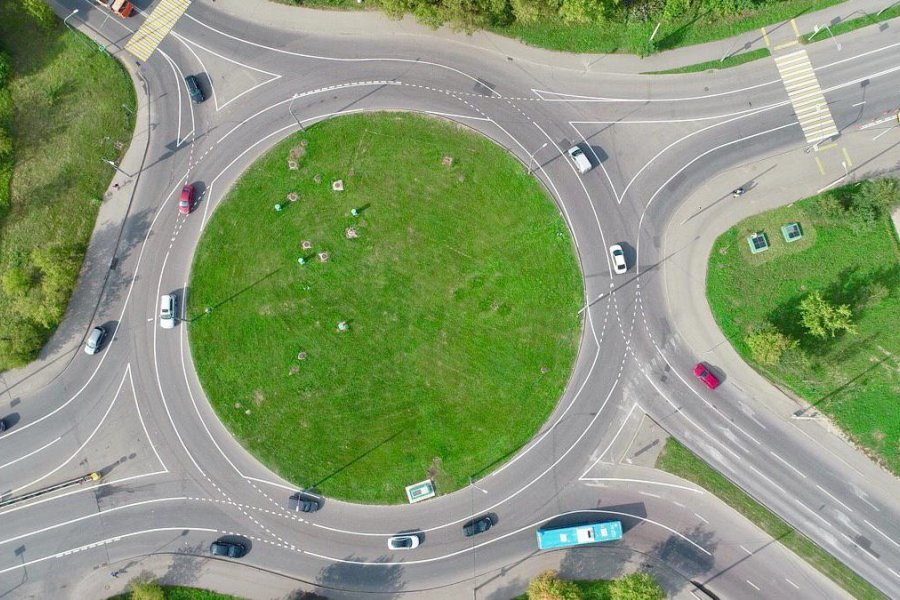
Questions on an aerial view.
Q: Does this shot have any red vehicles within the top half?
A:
Yes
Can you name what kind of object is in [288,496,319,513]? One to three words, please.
car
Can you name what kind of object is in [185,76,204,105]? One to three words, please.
car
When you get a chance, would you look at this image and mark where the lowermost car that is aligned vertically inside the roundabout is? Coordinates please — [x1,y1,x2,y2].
[160,295,175,328]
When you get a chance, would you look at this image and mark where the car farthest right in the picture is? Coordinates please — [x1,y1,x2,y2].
[693,364,720,390]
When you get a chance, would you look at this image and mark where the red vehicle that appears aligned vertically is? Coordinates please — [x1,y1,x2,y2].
[178,185,195,214]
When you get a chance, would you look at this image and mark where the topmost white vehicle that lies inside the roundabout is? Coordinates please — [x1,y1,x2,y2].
[570,146,592,174]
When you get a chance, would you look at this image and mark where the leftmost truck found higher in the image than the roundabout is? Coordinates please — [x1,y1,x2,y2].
[96,0,135,21]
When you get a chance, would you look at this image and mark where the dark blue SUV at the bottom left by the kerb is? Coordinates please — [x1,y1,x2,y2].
[212,542,245,559]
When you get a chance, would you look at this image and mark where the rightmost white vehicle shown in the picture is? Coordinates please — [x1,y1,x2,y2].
[609,245,627,276]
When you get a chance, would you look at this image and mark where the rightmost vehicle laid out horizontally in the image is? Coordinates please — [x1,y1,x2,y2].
[536,518,625,549]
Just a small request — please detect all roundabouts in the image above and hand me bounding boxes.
[120,48,711,579]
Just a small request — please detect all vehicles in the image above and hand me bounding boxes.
[388,535,419,550]
[160,295,175,328]
[185,76,204,105]
[570,146,592,174]
[609,245,627,276]
[288,496,319,513]
[462,515,494,536]
[693,364,720,390]
[96,0,135,21]
[85,326,105,355]
[178,185,195,214]
[212,542,245,559]
[536,518,625,549]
